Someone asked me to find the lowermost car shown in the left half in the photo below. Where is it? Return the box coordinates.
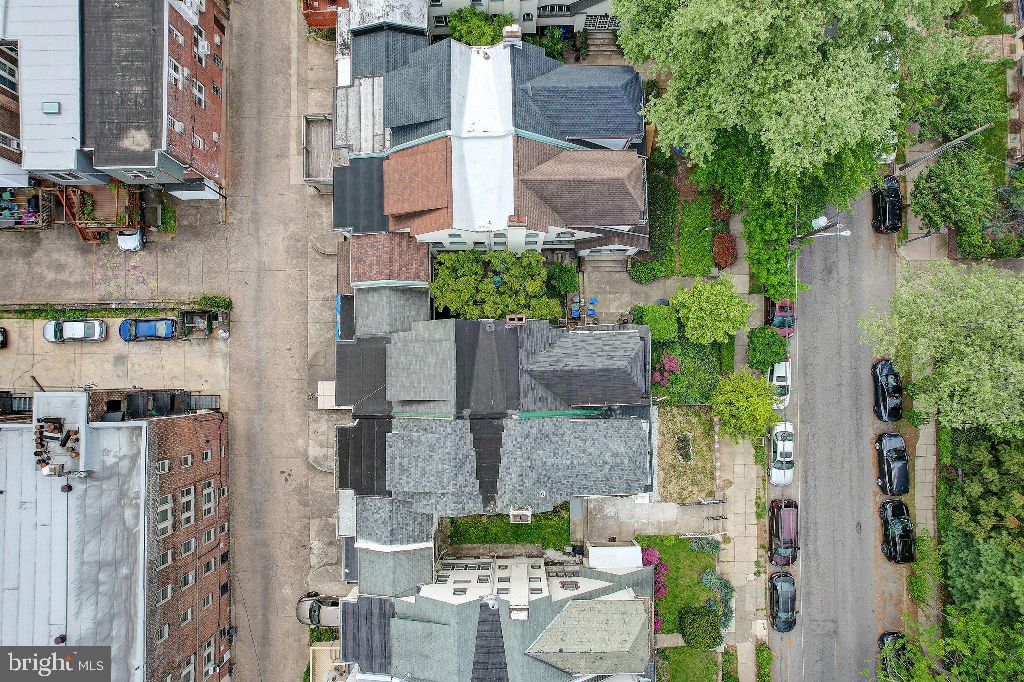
[295,592,350,627]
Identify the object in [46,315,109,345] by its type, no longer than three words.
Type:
car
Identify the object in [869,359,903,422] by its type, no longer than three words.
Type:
car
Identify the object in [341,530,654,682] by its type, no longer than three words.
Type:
house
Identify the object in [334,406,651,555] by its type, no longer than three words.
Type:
house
